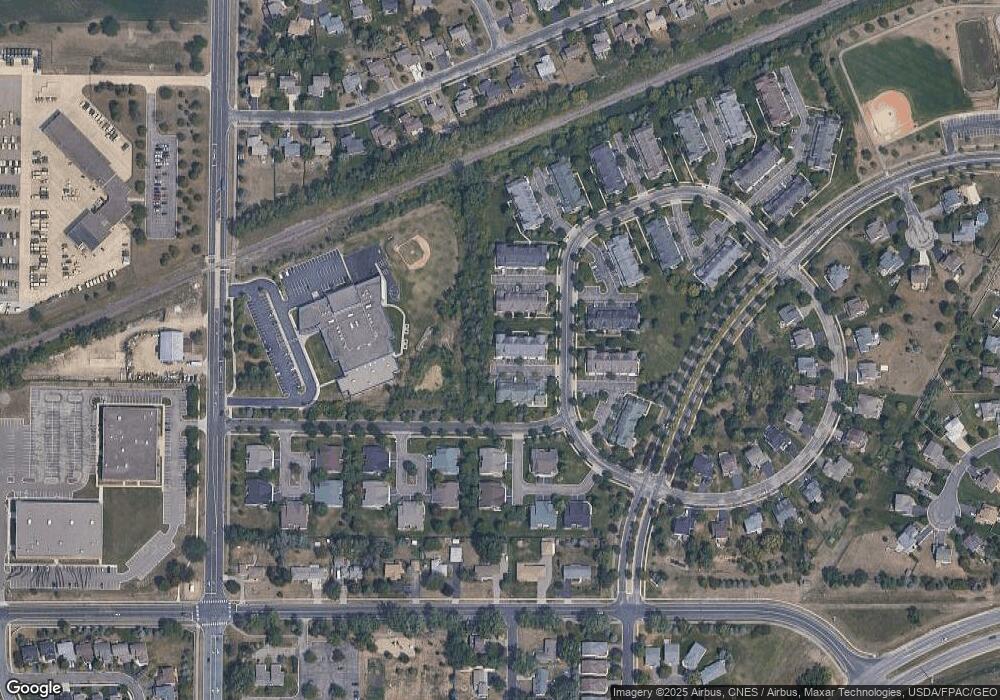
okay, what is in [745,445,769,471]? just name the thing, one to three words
house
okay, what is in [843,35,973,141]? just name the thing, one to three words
baseball field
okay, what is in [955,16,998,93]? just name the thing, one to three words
sports field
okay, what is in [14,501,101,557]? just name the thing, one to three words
building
